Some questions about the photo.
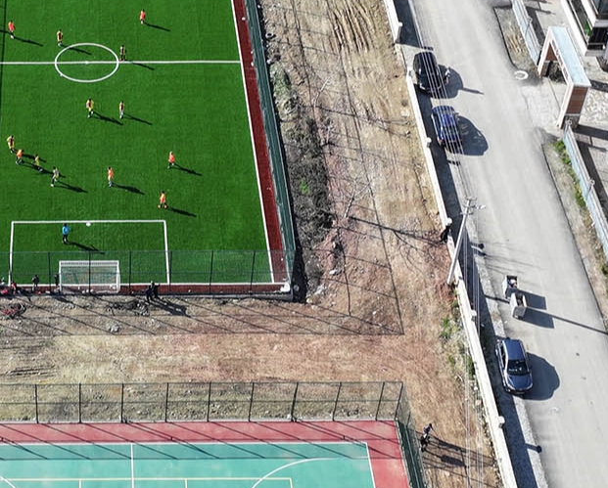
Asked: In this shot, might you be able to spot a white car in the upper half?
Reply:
No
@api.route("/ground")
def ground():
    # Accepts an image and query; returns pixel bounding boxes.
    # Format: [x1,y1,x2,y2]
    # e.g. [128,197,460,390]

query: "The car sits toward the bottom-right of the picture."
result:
[496,334,539,390]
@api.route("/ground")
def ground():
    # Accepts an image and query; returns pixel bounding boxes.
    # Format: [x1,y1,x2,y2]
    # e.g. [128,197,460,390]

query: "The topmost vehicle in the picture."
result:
[413,47,447,92]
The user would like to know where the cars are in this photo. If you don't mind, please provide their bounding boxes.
[496,334,539,390]
[432,105,469,147]
[413,47,447,92]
